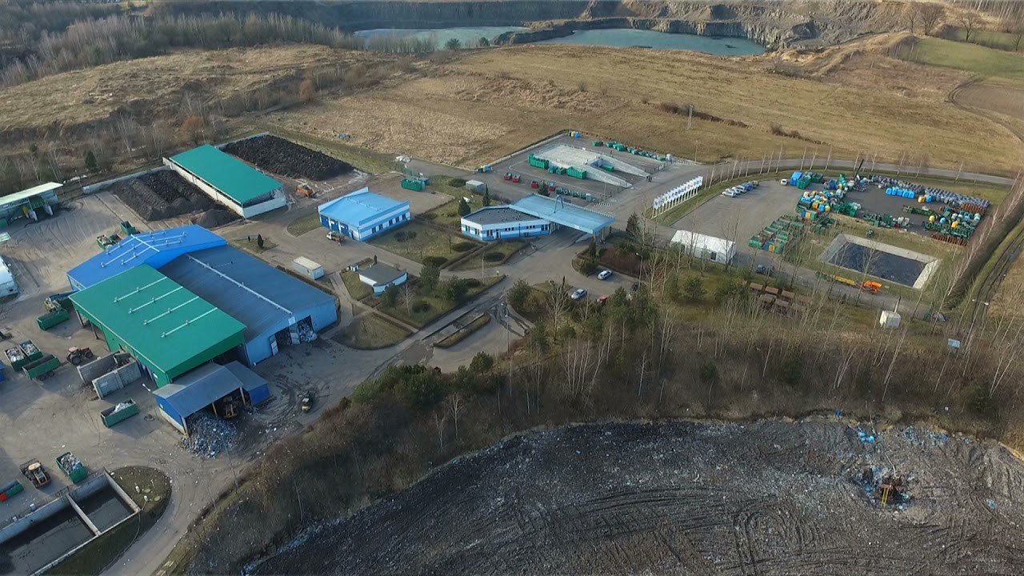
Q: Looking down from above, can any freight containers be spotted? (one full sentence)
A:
Yes, there is a freight container in the image.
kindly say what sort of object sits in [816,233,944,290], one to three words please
pond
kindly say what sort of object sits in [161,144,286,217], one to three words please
shed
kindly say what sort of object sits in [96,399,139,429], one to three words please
shipping container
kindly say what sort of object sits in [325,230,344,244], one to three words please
vehicle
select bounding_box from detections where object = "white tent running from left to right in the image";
[670,235,732,266]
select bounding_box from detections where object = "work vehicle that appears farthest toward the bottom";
[13,453,51,487]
